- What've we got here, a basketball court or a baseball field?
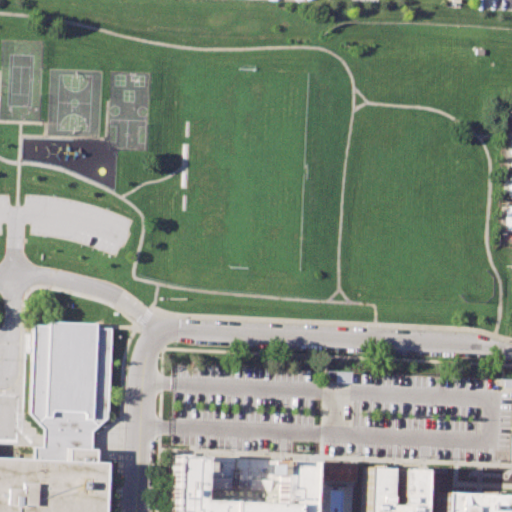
basketball court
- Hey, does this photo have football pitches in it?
Yes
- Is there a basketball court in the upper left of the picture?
Yes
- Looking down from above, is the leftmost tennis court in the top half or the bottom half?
top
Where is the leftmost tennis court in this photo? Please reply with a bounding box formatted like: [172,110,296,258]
[0,40,44,120]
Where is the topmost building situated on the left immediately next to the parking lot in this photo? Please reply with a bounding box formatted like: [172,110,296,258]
[30,323,113,461]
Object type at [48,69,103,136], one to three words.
basketball court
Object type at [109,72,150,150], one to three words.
sports court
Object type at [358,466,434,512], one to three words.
building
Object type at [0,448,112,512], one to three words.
building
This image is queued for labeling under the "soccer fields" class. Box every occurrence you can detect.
[186,68,310,272]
